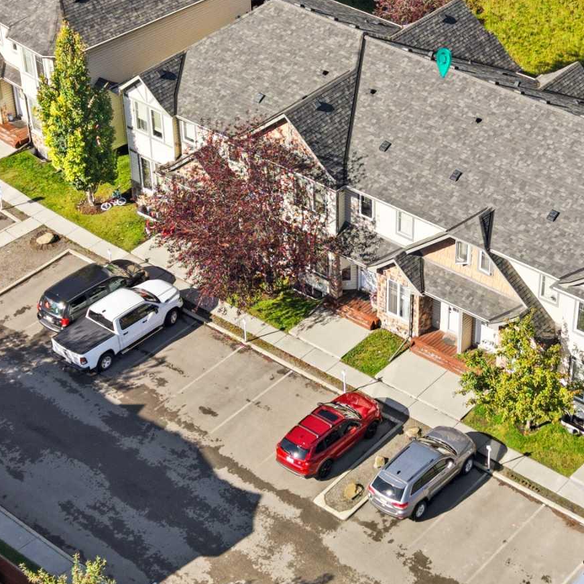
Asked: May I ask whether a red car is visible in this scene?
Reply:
Yes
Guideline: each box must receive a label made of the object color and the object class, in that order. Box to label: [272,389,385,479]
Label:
red car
